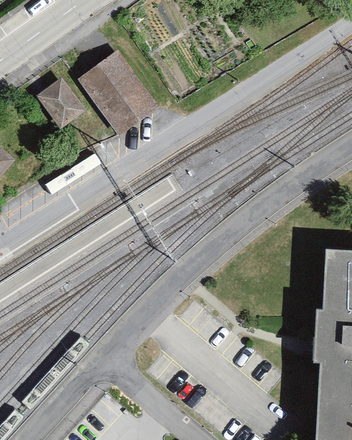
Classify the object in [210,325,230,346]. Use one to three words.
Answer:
car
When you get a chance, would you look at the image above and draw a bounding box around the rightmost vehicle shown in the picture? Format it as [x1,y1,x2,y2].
[267,401,287,419]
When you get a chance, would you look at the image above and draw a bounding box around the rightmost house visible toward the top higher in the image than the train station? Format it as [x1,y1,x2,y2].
[78,51,156,134]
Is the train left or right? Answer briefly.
left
